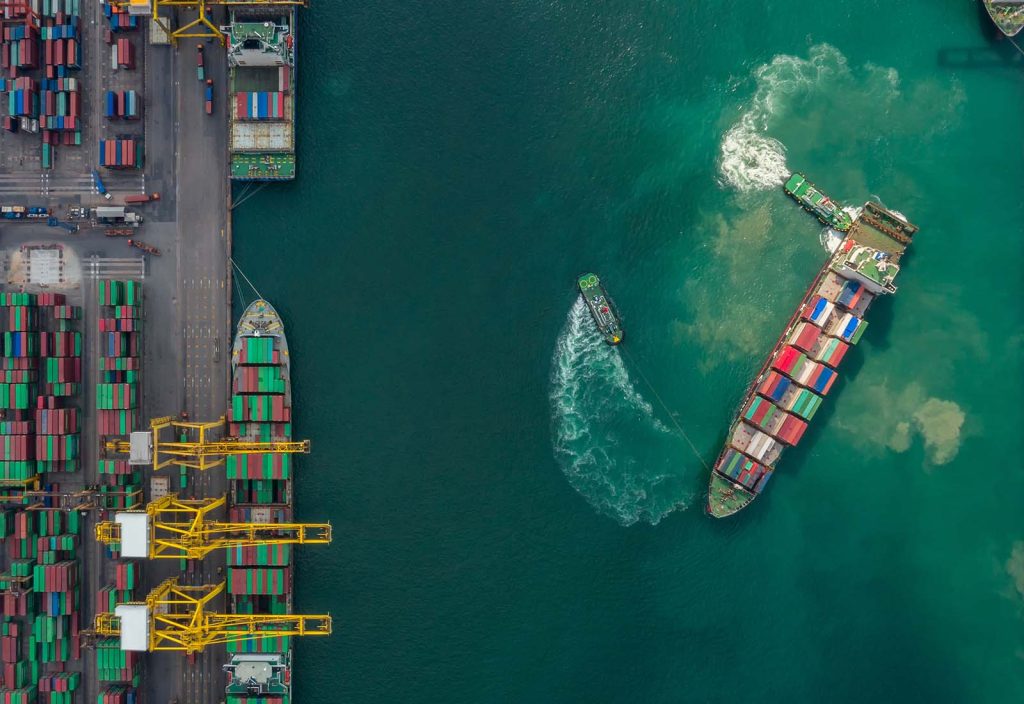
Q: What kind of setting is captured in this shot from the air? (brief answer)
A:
port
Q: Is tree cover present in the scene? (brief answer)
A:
No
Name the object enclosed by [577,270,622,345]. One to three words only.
boat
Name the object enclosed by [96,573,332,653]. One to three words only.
container crane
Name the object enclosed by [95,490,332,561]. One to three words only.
container crane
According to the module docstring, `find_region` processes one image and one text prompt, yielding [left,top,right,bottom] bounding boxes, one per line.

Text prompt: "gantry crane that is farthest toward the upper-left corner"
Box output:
[0,2,40,36]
